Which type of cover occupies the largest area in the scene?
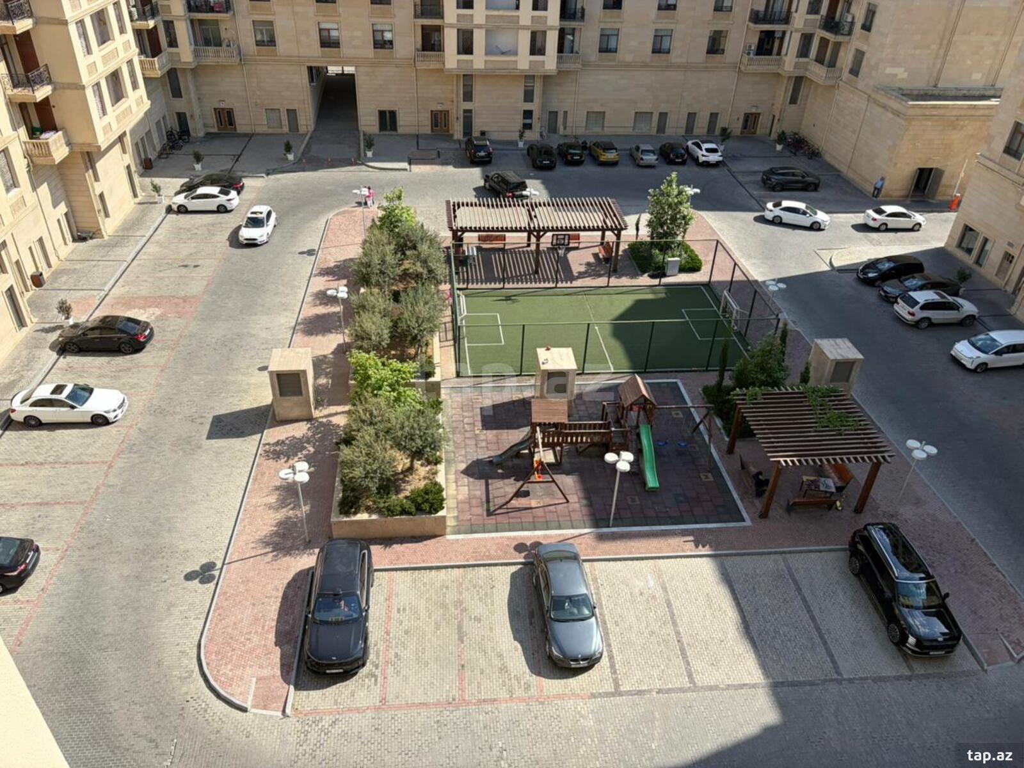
paved ground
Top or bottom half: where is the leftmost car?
bottom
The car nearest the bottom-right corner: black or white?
black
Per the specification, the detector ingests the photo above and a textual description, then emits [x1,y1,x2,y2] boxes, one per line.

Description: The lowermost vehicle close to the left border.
[0,526,45,584]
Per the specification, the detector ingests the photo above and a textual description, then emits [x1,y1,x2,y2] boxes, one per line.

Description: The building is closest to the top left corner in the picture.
[0,0,175,357]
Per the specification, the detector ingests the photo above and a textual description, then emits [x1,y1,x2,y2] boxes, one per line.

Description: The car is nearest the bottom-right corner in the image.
[849,519,968,655]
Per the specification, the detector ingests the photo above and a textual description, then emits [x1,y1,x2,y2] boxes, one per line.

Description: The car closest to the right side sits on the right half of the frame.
[954,325,1024,367]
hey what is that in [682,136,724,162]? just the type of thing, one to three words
car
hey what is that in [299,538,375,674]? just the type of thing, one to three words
car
